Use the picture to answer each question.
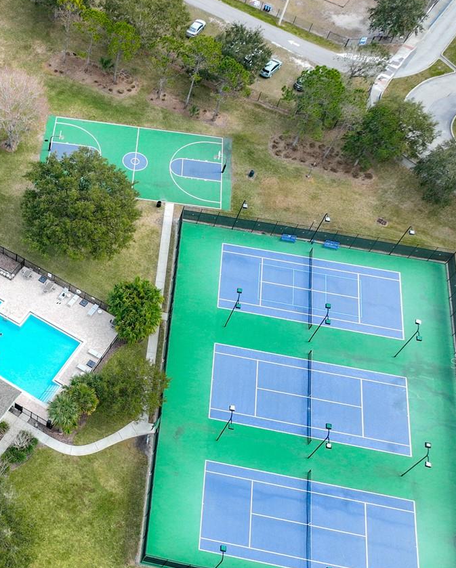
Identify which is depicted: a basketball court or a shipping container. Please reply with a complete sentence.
I can see a basketball court in this picture.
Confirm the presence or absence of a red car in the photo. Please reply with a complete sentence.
No, there appears to be no red car in this shot.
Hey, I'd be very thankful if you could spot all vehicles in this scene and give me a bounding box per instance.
[294,67,318,87]
[185,17,208,35]
[260,56,284,75]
